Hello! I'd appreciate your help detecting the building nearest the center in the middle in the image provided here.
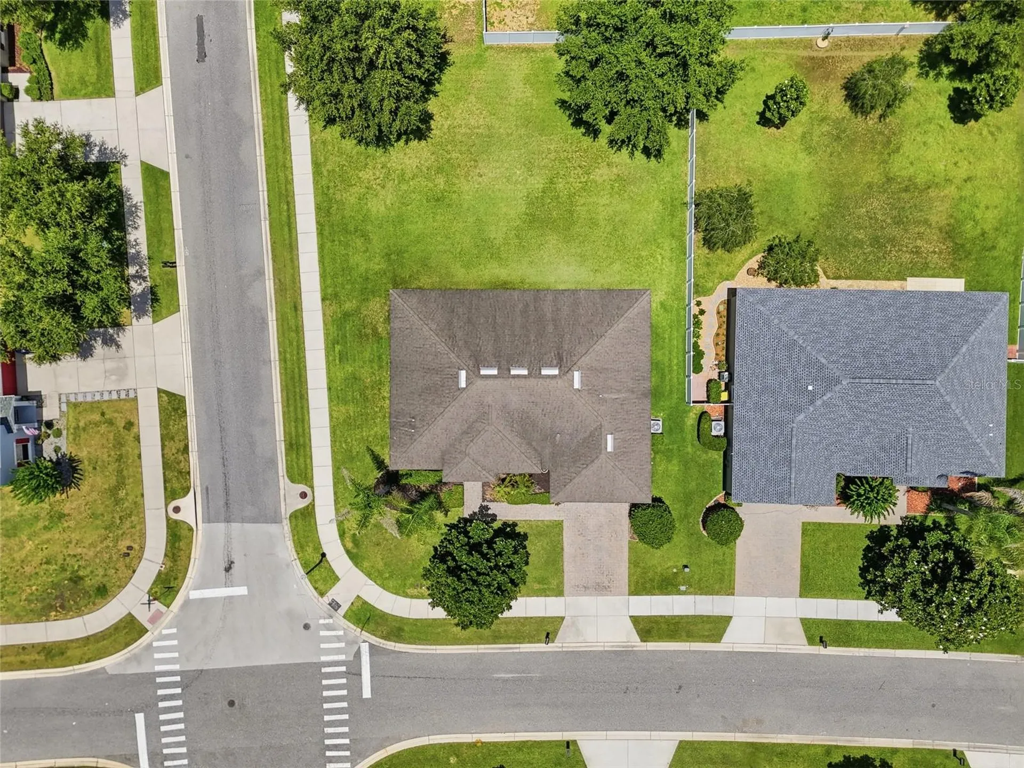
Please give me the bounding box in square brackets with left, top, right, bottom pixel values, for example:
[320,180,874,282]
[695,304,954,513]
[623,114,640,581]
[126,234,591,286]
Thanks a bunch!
[389,288,652,504]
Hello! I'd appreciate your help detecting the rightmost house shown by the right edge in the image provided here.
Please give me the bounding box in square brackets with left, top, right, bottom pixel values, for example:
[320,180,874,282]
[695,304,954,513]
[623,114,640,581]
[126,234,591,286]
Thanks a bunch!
[727,288,1009,505]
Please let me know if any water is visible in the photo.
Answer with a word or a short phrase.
No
